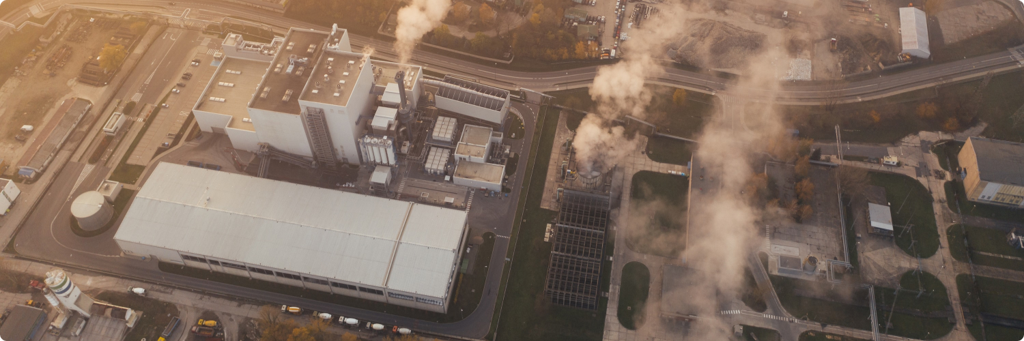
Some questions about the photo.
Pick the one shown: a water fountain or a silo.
silo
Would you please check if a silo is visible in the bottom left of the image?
Yes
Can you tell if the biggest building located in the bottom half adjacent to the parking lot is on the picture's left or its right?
left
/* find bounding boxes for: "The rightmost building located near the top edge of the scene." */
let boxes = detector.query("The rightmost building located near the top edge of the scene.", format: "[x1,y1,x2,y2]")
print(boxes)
[892,4,933,62]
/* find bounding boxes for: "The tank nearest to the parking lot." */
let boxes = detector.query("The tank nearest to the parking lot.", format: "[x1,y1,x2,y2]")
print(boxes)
[71,190,119,235]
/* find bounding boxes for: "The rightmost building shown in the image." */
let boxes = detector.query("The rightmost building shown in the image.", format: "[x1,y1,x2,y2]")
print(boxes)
[952,137,1024,209]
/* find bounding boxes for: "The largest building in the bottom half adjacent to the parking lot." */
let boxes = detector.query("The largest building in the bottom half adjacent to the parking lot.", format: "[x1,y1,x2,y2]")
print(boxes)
[113,161,469,314]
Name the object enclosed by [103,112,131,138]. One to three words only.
house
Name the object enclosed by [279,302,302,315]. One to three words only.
vehicle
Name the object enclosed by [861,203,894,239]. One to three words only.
building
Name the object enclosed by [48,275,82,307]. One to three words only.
silo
